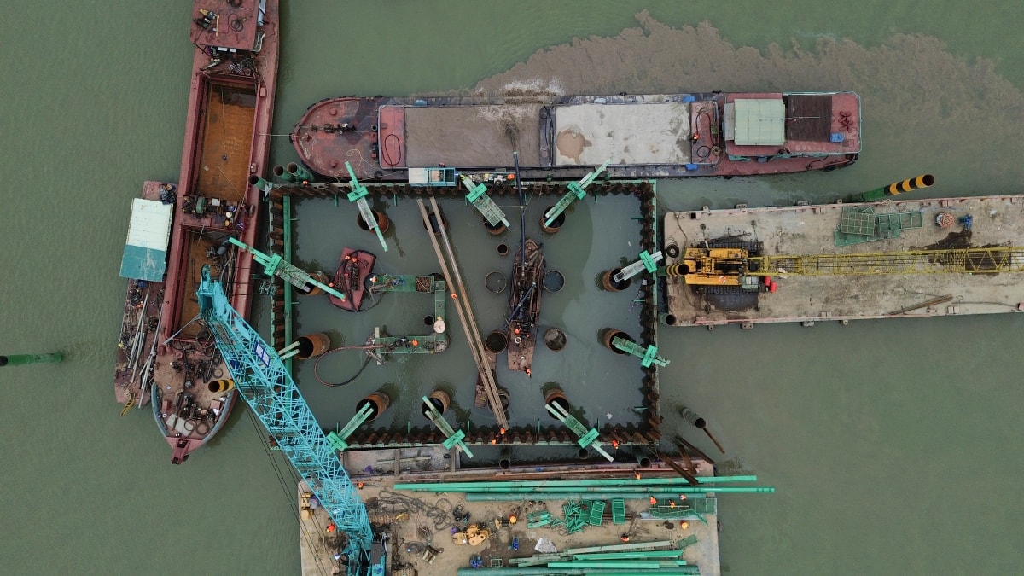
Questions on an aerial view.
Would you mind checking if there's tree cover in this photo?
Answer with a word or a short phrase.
No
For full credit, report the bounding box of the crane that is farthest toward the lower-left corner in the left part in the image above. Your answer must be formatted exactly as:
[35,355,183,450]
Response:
[192,269,417,576]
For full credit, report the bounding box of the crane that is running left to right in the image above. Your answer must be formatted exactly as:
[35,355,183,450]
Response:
[679,239,1024,294]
